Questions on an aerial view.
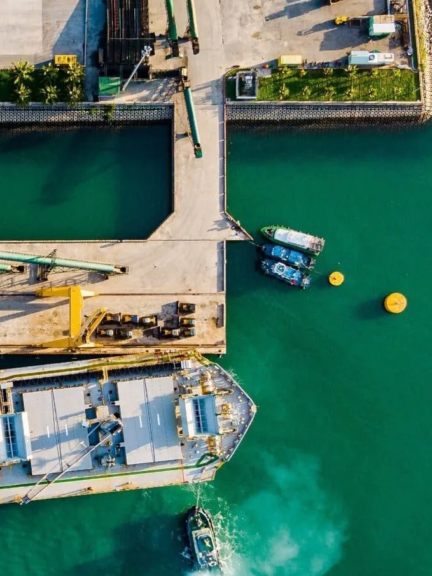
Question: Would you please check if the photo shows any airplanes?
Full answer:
No, the frame has no airplane in it.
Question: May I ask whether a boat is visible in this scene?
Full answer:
Yes, there's a boat down there.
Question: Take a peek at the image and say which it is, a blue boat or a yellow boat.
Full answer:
There is a blue boat in the scene.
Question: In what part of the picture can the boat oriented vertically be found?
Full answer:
The boat oriented vertically is in the bottom part of the image.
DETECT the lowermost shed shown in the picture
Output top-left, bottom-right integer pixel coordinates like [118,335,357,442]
[97,76,121,102]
